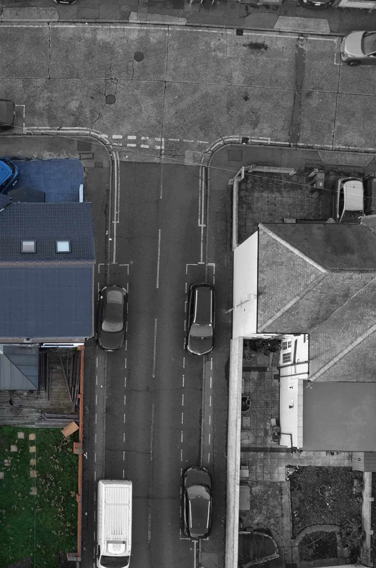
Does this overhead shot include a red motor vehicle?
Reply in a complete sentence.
No, no red motor vehicle is visible in the scene.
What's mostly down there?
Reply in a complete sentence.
The bulk of the photo consists of paved ground.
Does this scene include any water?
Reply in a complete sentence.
No, the picture contains no water.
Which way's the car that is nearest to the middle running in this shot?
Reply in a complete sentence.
The car that is nearest to the middle has been laid out from top to bottom relative to the frame.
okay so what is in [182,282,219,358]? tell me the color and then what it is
black car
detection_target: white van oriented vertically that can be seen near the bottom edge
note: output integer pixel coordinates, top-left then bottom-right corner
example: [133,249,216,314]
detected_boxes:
[95,478,134,568]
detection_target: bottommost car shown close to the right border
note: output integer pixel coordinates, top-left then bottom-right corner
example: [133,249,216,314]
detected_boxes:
[331,173,367,223]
